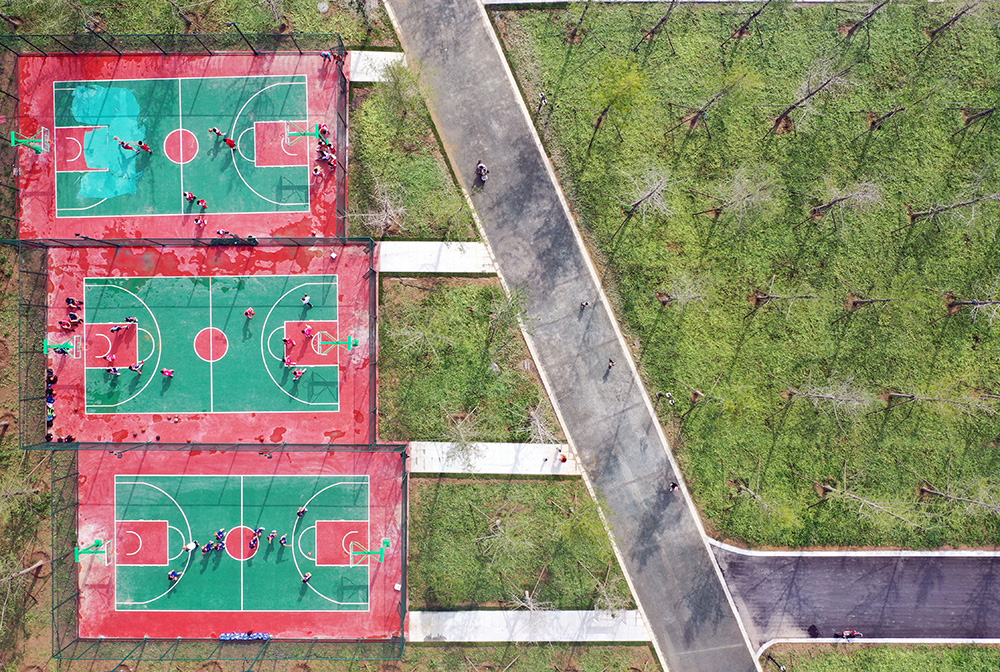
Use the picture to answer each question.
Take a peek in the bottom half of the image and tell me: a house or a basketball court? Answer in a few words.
basketball court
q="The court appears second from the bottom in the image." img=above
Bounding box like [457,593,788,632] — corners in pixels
[48,246,378,442]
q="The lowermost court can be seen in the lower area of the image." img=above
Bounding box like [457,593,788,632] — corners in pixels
[78,443,409,640]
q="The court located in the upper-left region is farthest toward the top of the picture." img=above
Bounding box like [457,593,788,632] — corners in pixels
[19,53,350,246]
